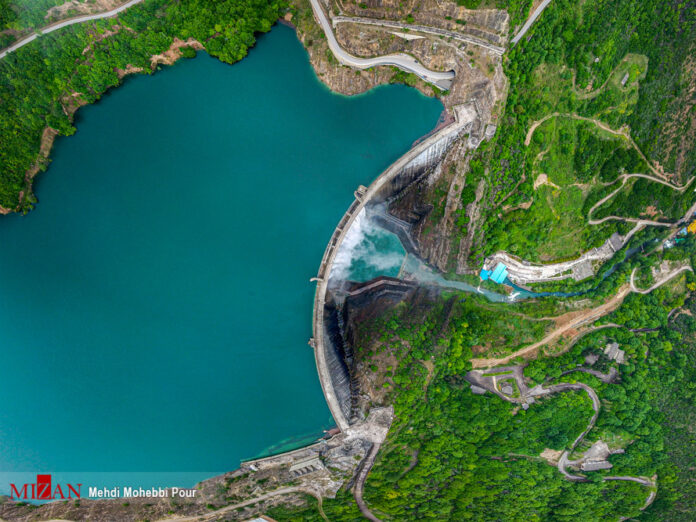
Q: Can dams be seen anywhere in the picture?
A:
Yes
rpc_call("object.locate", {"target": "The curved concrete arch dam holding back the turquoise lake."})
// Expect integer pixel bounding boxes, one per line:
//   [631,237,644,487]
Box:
[308,117,464,430]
